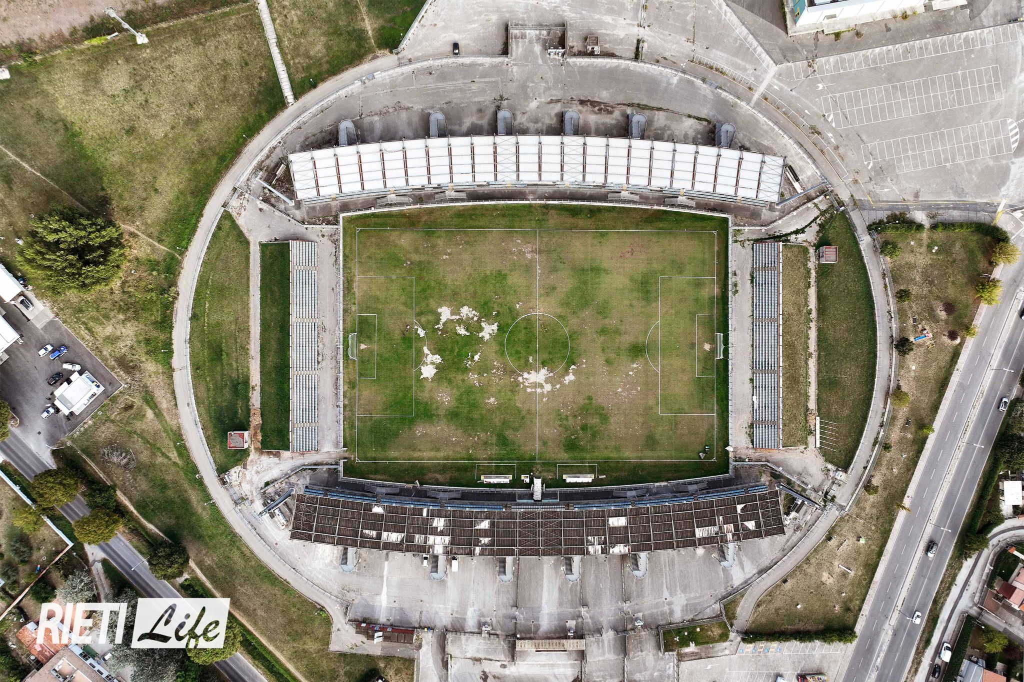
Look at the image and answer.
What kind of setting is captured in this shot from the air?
sports ground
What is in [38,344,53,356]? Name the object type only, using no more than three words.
vehicle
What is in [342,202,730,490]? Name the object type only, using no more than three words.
soccer field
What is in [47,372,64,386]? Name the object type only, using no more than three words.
car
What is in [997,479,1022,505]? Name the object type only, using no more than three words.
building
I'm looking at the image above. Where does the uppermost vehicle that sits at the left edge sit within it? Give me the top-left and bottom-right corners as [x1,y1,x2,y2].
[19,296,33,310]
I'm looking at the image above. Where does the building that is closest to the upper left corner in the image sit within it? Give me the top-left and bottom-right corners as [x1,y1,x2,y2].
[0,258,32,302]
